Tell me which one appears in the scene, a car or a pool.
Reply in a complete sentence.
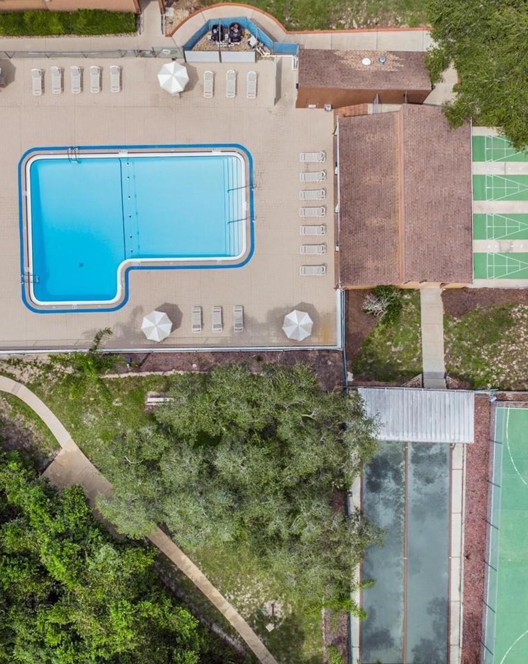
This aerial view contains a pool.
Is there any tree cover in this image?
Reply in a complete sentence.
Yes, tree cover can be seen from above here.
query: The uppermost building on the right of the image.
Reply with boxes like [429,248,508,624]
[297,49,436,109]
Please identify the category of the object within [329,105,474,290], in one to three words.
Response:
building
